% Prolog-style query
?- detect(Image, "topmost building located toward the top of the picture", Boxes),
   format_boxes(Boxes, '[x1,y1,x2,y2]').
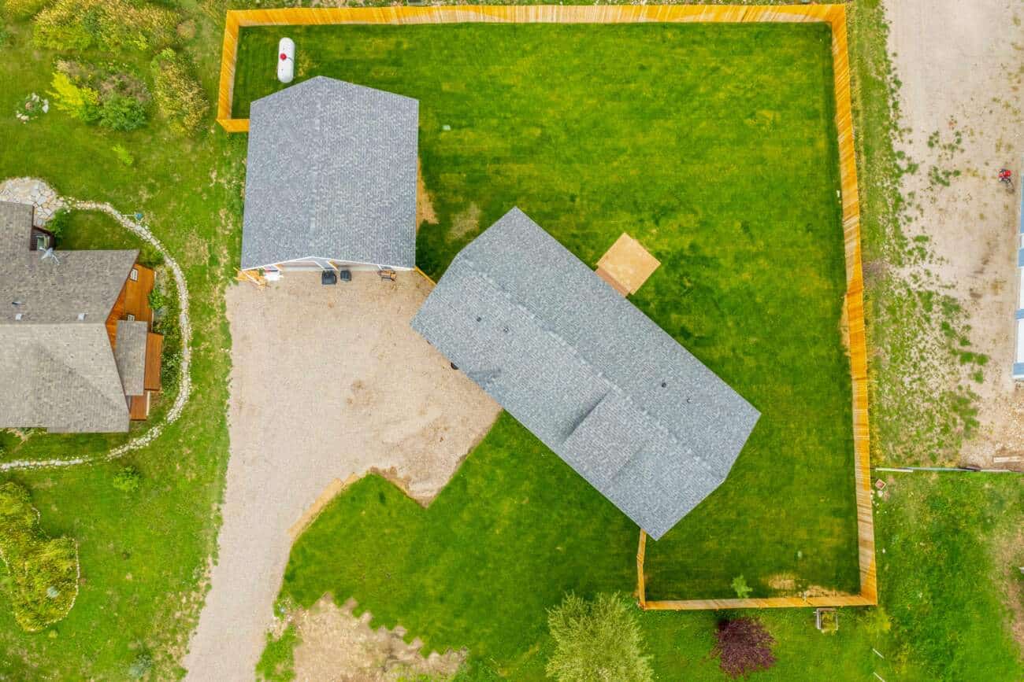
[241,75,420,272]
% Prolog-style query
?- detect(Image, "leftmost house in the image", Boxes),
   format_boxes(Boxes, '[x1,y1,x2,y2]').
[0,202,149,432]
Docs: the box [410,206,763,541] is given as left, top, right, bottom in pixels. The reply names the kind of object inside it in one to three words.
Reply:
house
